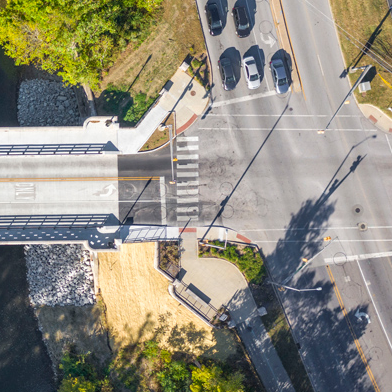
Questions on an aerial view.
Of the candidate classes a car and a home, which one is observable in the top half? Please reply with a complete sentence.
Looking in the top half, you will find a car.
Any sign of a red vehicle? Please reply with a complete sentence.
No, no red vehicle is visible in the view.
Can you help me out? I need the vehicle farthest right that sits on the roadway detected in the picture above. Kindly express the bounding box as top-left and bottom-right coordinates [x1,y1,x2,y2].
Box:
[269,58,290,95]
